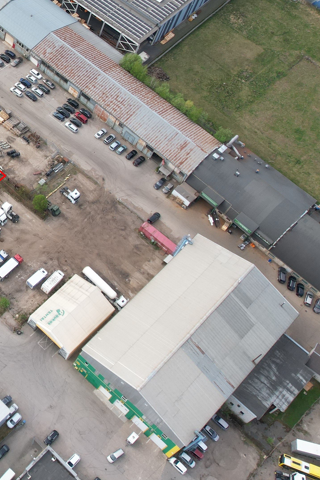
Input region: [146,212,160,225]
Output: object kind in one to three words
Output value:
vehicle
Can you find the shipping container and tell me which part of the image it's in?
center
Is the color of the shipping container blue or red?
red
